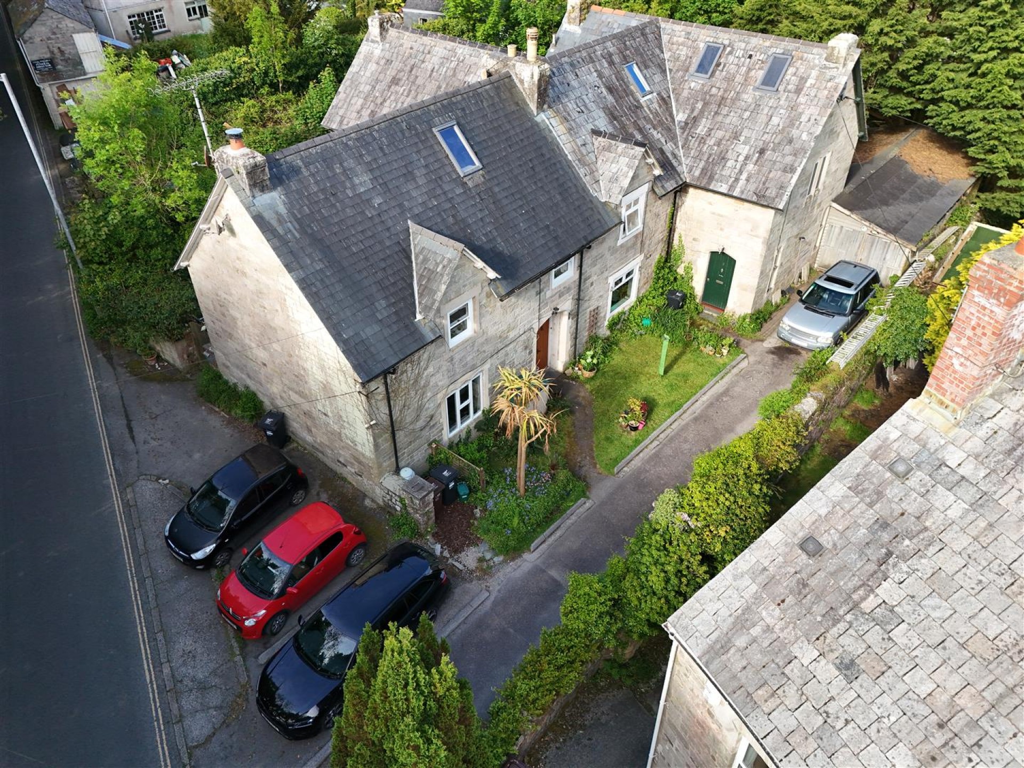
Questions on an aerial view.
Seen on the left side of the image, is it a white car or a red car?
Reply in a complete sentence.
What appears on the left side of the image is a red car.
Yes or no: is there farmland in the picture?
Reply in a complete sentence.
No, no farmland is visible.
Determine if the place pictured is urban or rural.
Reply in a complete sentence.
The area shown here is urban.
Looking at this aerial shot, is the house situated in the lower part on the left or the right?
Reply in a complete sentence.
The house situated in the lower part sits on the right side.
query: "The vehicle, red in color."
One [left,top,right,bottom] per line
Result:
[211,495,367,638]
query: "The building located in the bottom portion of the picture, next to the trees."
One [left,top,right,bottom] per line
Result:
[643,252,1024,768]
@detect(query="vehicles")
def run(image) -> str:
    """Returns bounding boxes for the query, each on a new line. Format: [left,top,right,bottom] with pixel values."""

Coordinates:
[781,250,886,353]
[256,542,453,738]
[211,495,367,638]
[159,436,307,567]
